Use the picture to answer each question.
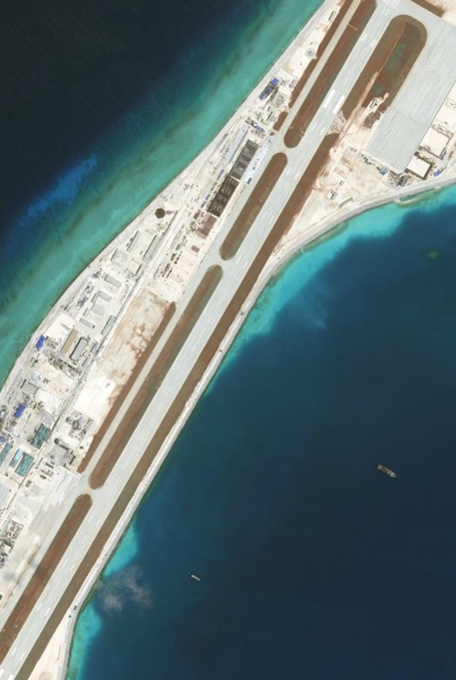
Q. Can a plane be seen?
No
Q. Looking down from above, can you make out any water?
Yes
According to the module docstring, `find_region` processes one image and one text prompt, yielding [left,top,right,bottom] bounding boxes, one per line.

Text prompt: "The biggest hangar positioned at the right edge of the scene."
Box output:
[418,127,451,159]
